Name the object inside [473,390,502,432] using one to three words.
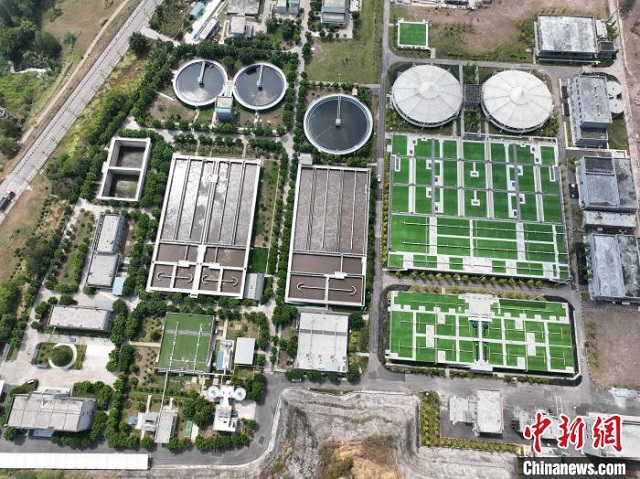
house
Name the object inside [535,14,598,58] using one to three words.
building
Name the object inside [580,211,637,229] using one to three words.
shed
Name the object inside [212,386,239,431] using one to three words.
house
